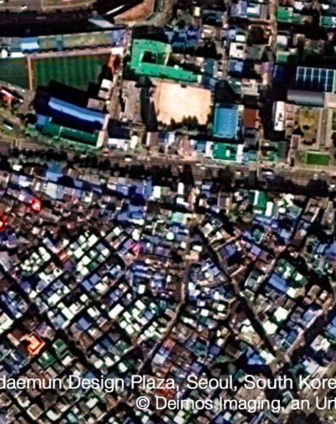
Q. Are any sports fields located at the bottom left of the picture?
No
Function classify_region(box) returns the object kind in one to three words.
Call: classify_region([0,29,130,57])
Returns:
building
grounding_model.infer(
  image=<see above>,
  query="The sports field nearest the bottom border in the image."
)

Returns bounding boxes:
[153,80,211,125]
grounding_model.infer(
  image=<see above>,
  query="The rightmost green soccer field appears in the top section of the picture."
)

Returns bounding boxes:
[33,52,107,92]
